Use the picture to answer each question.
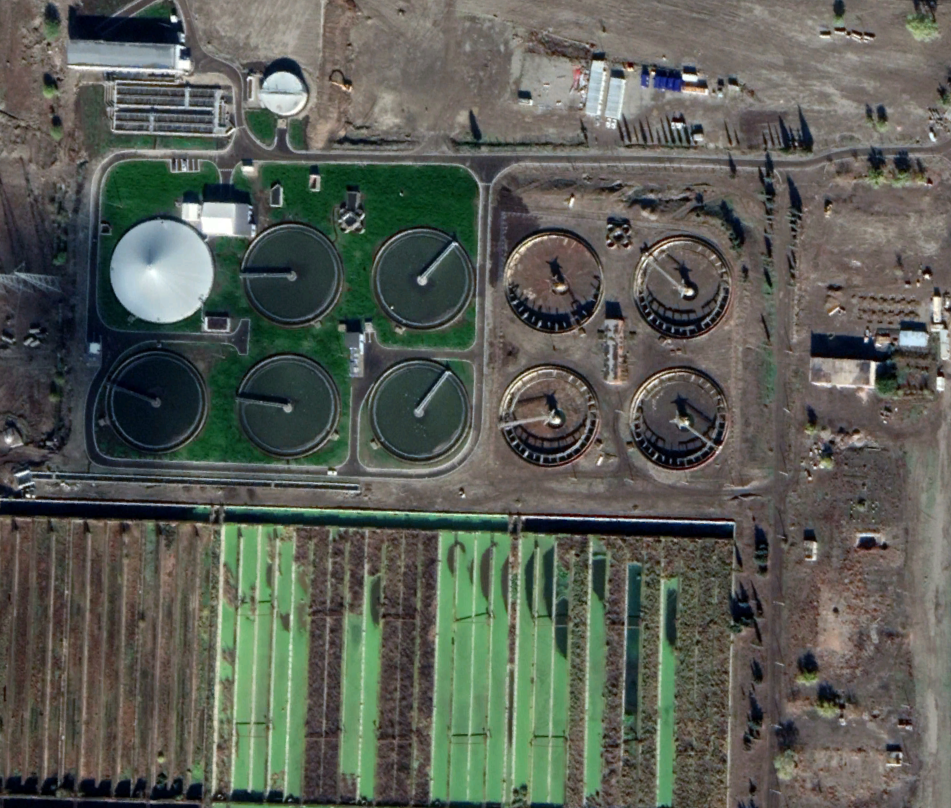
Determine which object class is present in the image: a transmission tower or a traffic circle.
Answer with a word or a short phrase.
transmission tower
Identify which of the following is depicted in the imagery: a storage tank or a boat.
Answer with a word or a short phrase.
storage tank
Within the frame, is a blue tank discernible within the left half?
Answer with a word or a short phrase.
No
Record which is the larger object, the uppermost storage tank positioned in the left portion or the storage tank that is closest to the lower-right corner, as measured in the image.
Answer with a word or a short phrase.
the storage tank that is closest to the lower-right corner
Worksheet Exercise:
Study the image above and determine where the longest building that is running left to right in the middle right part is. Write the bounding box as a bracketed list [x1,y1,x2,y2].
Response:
[808,357,876,389]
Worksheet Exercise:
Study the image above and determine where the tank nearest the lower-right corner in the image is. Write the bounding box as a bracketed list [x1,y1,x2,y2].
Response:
[629,366,733,471]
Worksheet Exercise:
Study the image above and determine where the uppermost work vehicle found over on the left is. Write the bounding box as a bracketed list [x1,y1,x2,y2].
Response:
[332,79,356,93]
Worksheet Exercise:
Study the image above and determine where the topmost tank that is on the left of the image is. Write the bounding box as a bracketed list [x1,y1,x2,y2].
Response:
[258,71,309,118]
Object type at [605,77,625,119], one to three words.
shed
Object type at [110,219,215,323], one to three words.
storage tank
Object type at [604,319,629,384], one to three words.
building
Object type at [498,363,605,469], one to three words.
storage tank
